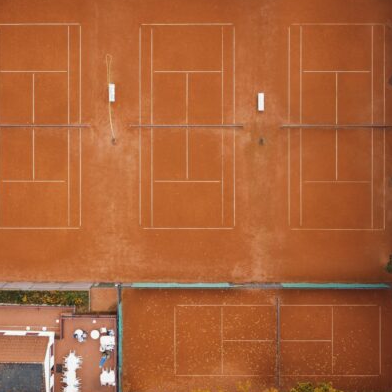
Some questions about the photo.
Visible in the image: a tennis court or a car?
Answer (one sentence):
This aerial view contains a tennis court.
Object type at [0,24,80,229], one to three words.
tennis court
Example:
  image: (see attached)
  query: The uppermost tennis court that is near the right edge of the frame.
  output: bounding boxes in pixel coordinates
[289,23,384,230]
